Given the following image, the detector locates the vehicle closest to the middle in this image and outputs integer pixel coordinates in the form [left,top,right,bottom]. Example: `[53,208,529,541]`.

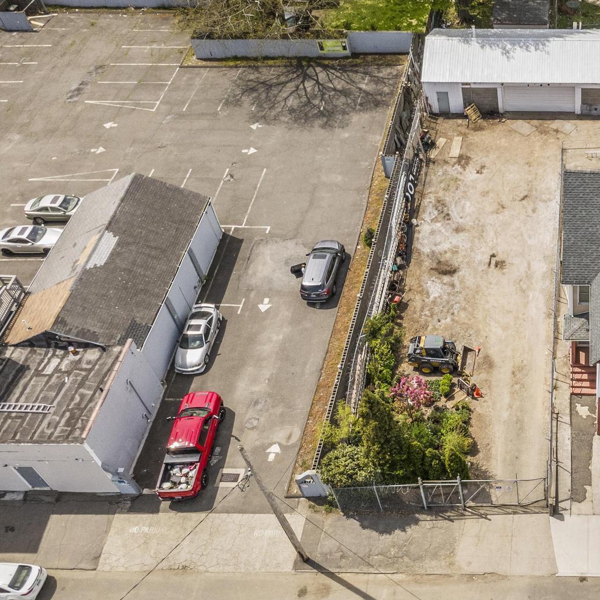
[287,238,345,301]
